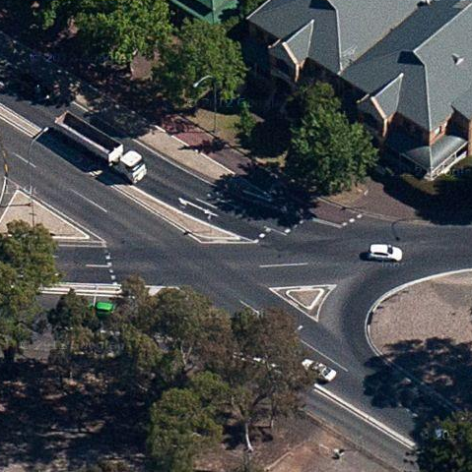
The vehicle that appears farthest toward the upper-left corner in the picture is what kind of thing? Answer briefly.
truck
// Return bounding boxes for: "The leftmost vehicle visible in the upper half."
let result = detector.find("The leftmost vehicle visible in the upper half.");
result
[55,109,140,178]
